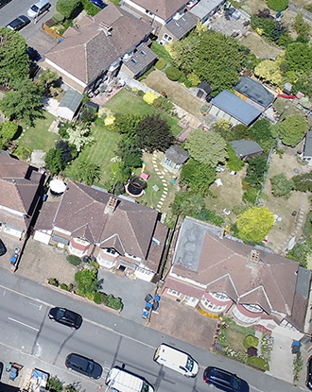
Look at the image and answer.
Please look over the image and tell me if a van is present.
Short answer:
Yes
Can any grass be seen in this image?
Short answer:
Yes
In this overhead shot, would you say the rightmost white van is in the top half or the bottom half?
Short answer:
bottom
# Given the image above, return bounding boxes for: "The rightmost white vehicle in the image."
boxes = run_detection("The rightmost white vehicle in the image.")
[153,342,200,379]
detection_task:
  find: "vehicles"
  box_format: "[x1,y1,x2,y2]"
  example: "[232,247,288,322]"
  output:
[65,353,103,380]
[46,307,84,331]
[24,44,46,64]
[153,342,200,379]
[305,352,312,392]
[104,365,154,392]
[27,0,53,19]
[96,0,111,13]
[0,243,7,257]
[4,14,32,33]
[201,365,249,392]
